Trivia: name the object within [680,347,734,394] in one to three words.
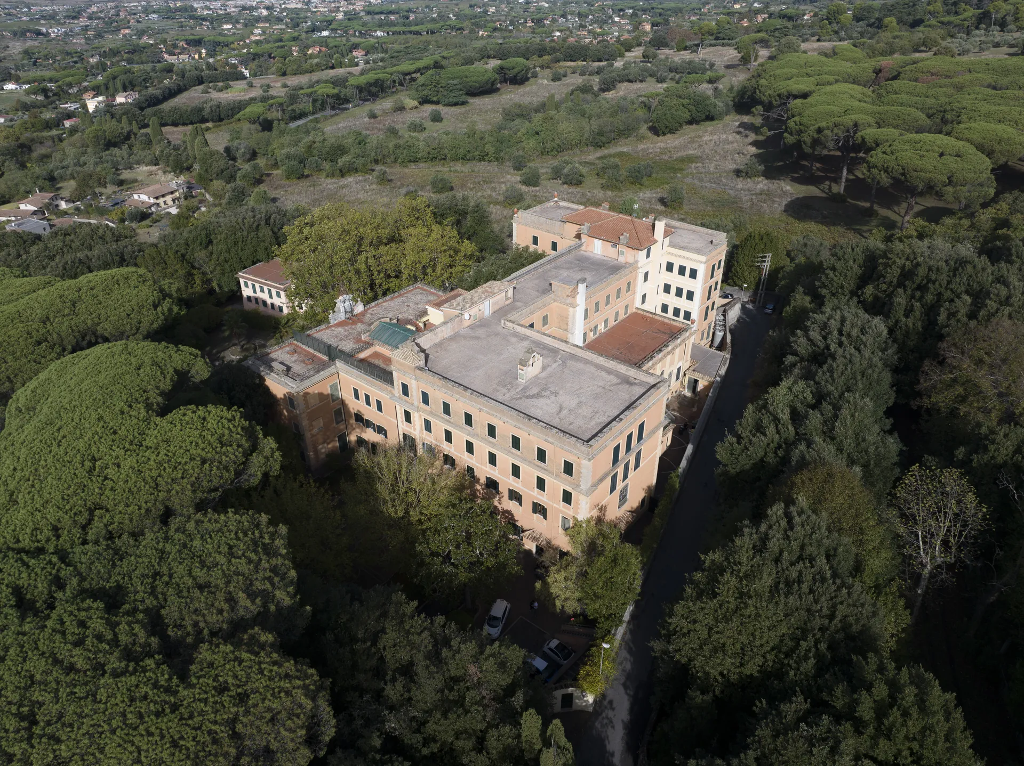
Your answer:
shed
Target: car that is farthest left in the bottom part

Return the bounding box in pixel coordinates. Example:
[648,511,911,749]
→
[486,601,508,640]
